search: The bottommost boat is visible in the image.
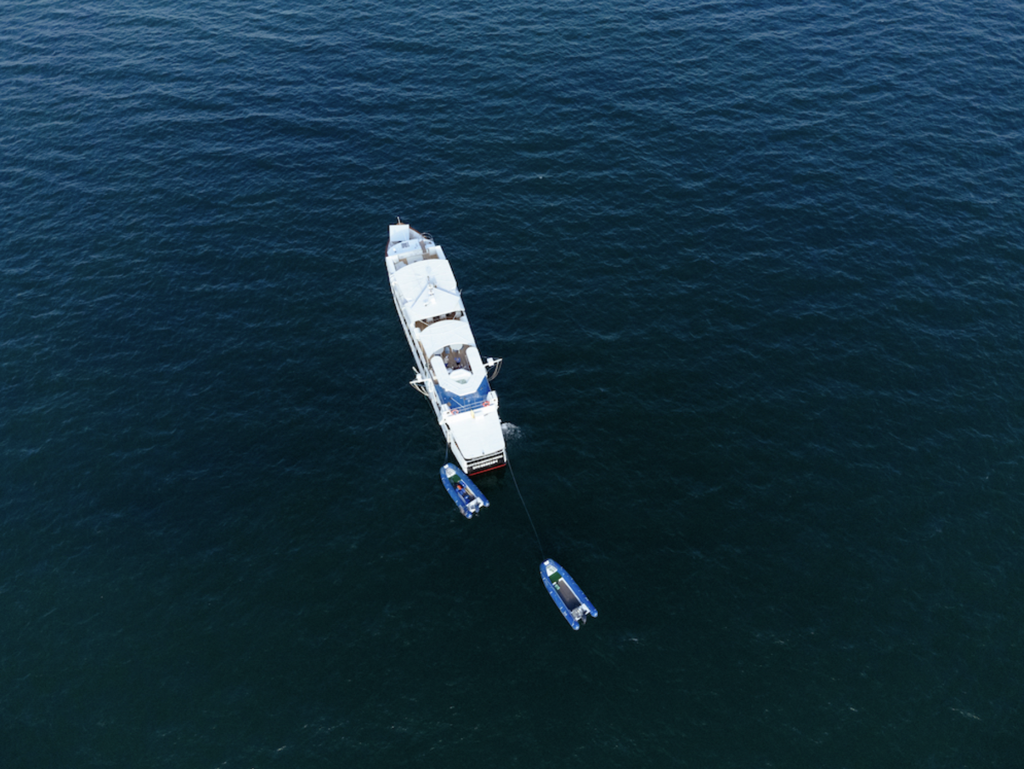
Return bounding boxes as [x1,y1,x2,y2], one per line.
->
[538,558,596,629]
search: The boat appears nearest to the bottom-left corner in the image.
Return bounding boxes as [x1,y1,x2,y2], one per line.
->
[439,462,489,519]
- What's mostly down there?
water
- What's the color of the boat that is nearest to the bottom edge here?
blue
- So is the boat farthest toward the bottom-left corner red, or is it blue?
blue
